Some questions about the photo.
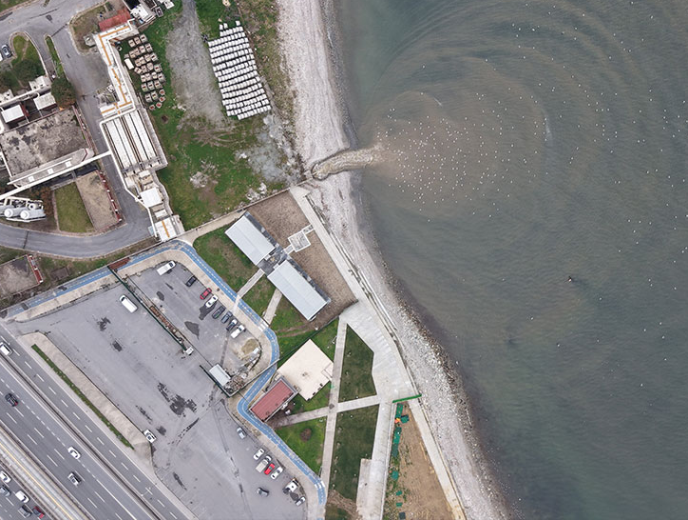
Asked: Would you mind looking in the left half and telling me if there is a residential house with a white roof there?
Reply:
Yes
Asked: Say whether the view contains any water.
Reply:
Yes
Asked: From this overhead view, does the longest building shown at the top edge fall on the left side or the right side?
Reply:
left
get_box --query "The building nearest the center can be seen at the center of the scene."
[267,255,333,320]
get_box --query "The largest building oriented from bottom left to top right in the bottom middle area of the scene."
[248,376,298,421]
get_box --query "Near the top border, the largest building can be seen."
[93,19,146,119]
